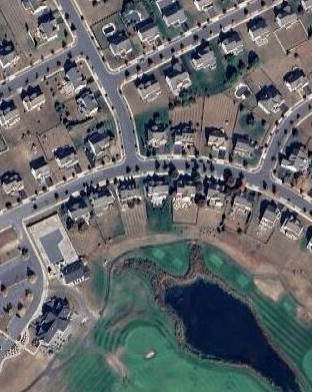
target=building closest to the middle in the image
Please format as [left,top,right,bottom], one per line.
[149,179,167,203]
